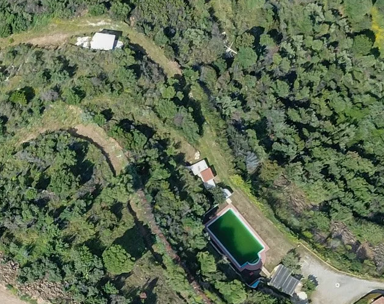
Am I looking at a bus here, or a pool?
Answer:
pool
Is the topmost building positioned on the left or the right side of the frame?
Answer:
left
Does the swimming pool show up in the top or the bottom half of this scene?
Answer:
bottom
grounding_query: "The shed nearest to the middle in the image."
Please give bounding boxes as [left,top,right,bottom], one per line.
[188,161,215,185]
